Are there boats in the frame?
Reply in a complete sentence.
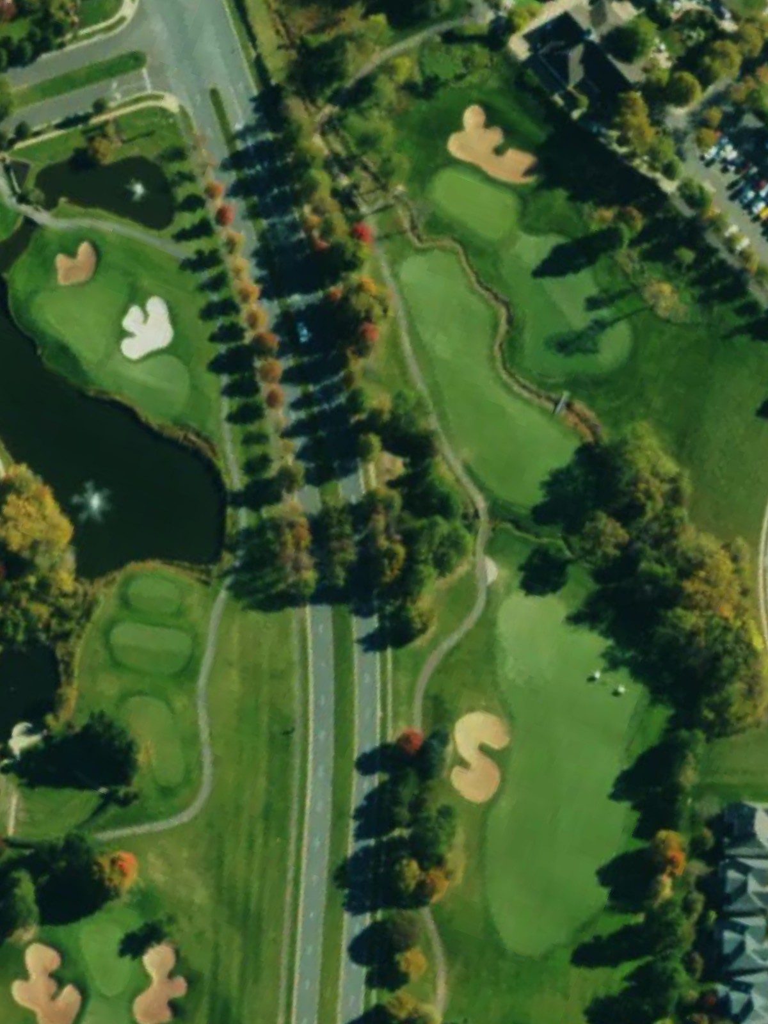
No, no boat can be seen from above.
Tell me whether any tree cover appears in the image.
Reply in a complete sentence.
Yes, there is tree cover in the image.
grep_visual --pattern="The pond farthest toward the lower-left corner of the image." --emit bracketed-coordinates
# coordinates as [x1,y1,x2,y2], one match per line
[0,643,59,743]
